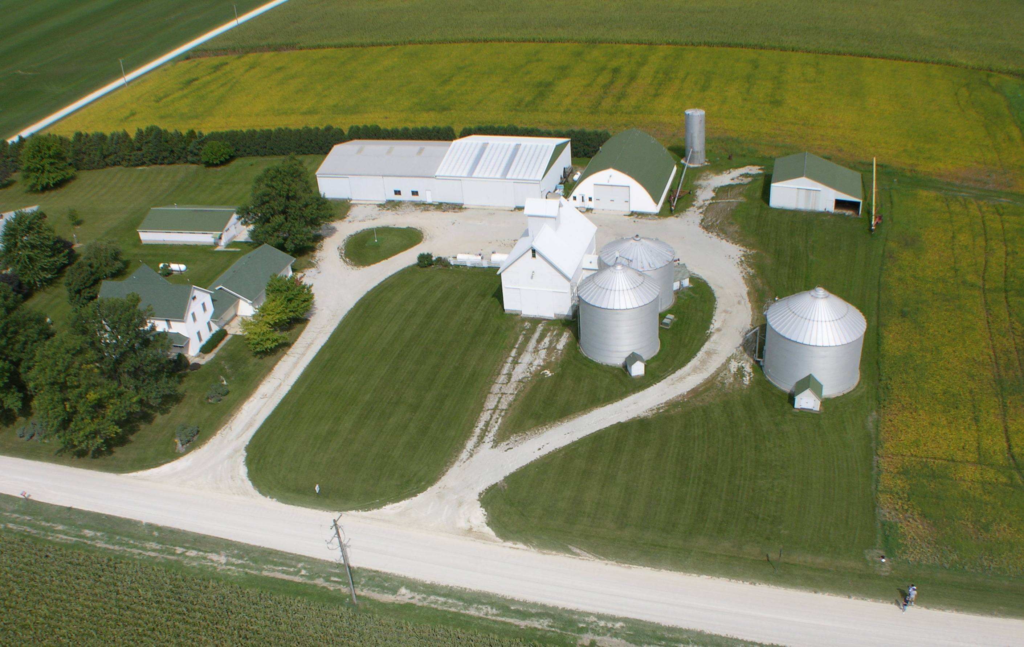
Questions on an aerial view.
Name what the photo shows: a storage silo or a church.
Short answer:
storage silo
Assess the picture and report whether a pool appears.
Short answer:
No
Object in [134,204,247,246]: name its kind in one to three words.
shed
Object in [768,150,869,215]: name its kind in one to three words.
shed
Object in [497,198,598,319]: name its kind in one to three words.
barn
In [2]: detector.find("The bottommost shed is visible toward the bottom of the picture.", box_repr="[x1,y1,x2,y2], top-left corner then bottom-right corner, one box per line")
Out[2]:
[793,377,823,412]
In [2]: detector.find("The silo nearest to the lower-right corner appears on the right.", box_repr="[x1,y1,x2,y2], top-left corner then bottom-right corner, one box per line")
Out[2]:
[759,290,867,400]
